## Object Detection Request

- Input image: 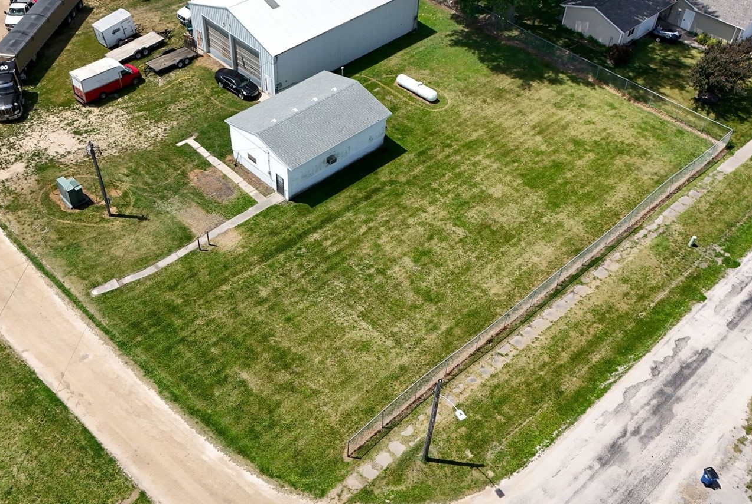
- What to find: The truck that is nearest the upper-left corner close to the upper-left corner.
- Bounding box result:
[0,0,40,27]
